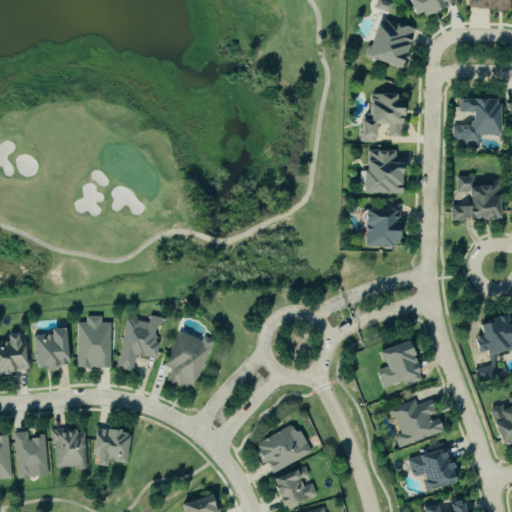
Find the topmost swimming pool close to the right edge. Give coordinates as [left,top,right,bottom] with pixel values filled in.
[480,134,502,152]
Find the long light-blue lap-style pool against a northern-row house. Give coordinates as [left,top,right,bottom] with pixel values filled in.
[31,318,58,336]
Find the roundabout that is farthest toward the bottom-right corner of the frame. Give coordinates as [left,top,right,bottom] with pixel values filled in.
[470,238,512,294]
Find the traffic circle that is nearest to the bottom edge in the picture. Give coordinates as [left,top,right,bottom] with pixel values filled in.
[258,303,327,384]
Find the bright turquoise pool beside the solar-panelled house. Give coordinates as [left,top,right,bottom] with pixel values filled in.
[404,461,426,497]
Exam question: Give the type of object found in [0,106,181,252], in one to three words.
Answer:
golf course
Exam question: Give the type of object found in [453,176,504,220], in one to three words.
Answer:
house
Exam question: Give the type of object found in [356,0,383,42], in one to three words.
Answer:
swimming pool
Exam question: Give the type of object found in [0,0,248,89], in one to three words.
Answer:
pond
